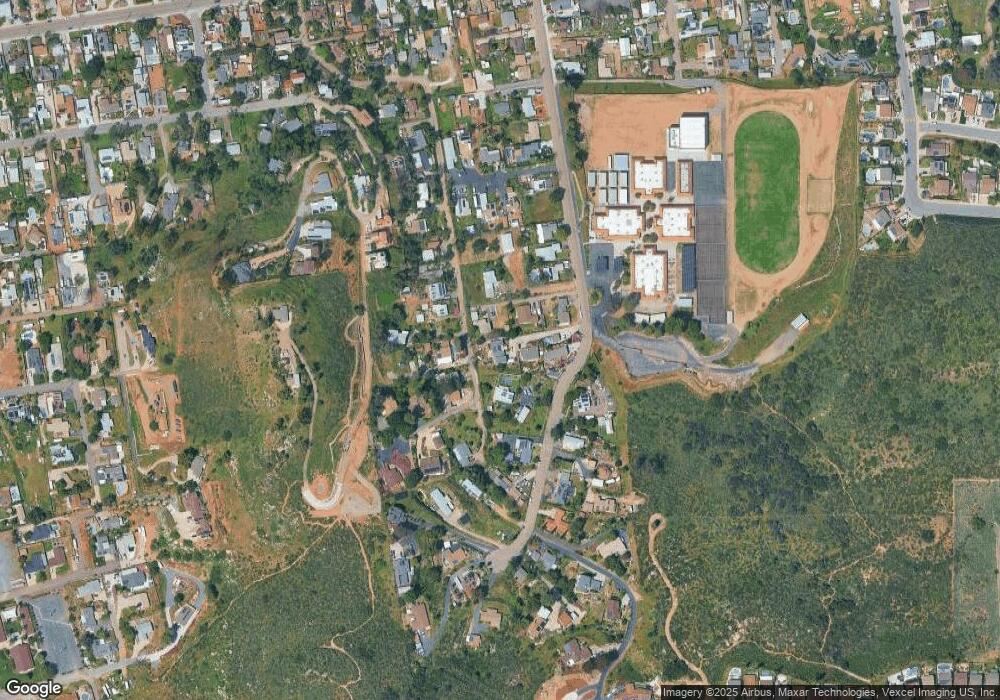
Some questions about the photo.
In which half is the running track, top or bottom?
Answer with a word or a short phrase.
top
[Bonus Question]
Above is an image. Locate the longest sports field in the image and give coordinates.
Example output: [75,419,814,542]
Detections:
[729,105,806,279]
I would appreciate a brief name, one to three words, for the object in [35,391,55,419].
house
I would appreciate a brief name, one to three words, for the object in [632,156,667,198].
building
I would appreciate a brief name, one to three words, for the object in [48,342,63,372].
house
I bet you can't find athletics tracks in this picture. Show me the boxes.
[729,105,806,279]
